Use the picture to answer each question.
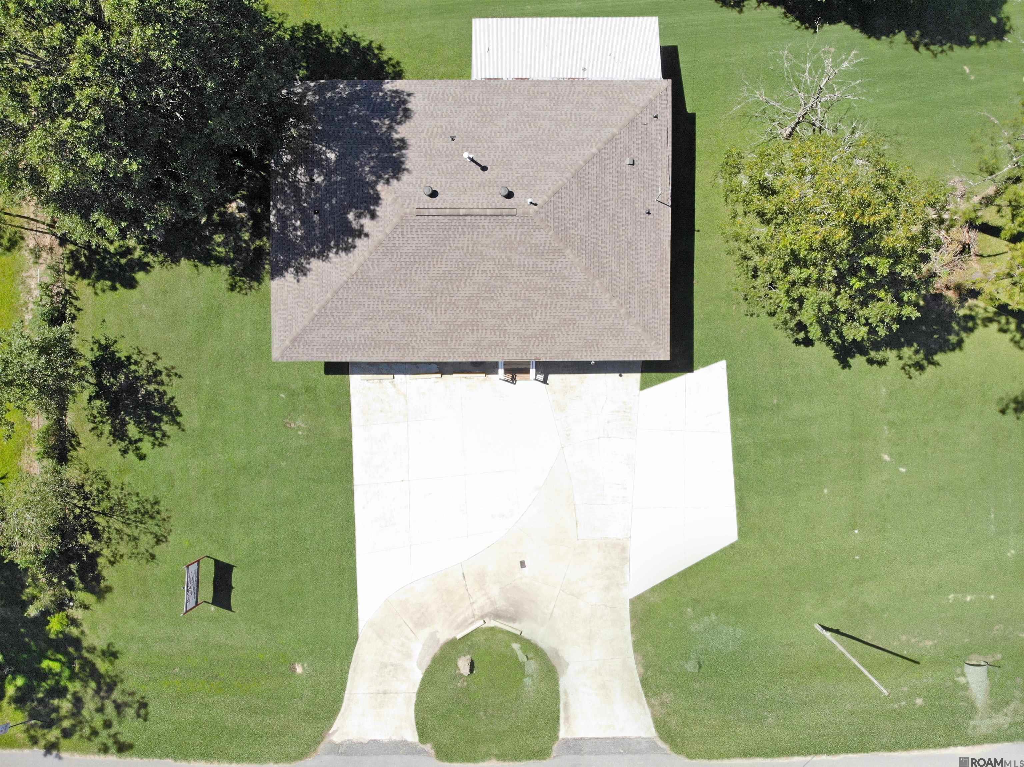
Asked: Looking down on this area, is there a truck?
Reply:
No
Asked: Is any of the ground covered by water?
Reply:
No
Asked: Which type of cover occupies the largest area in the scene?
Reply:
grass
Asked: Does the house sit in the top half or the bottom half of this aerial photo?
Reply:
top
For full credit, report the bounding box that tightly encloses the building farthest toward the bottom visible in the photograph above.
[269,77,673,363]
